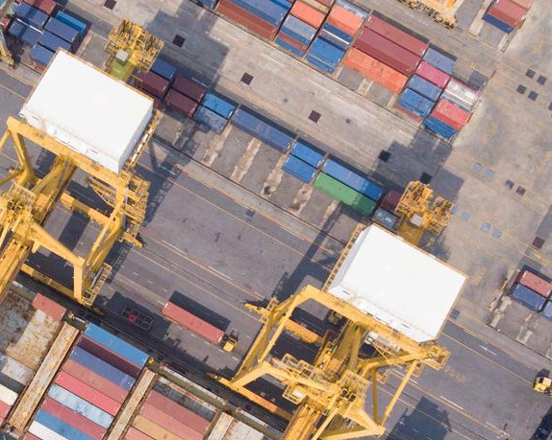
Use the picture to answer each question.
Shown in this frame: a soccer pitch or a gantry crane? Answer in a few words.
gantry crane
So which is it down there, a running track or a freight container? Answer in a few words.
freight container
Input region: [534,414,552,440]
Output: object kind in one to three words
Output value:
vehicle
